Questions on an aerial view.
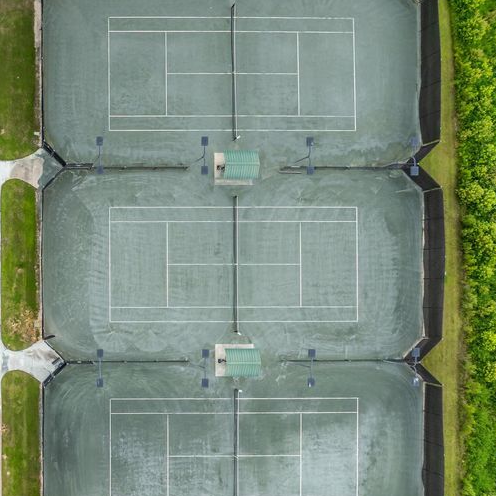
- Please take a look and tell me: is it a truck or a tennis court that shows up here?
tennis court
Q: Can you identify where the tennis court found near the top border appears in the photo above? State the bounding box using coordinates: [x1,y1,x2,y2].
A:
[44,0,421,167]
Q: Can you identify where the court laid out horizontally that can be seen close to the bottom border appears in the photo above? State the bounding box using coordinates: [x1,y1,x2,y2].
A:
[45,361,425,496]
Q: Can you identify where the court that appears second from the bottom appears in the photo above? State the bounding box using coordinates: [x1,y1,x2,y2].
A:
[45,167,426,362]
